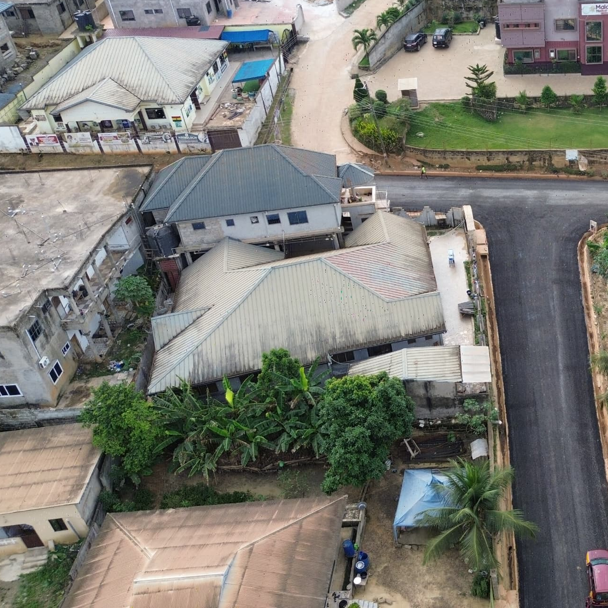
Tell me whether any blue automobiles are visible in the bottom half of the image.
No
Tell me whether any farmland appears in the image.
No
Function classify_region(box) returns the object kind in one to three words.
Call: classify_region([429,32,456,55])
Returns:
car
